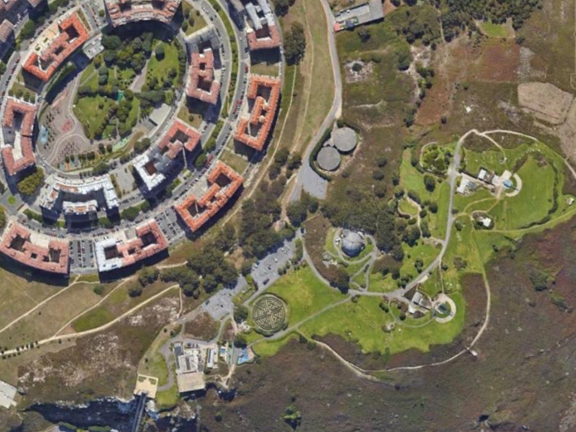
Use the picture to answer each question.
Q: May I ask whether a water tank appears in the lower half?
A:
No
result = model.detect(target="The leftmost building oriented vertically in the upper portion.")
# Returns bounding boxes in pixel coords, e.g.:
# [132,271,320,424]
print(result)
[1,96,38,175]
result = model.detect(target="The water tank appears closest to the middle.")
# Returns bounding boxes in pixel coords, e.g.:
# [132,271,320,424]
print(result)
[315,147,341,170]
